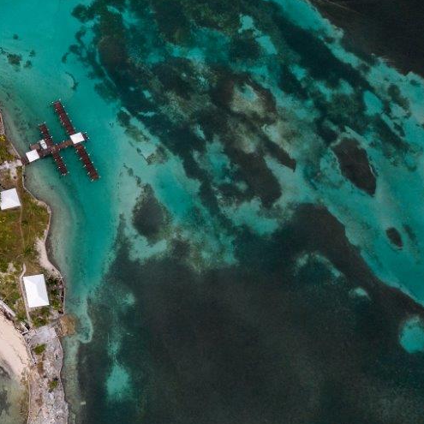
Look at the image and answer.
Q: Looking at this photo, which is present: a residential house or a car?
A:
residential house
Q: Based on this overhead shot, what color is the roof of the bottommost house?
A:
white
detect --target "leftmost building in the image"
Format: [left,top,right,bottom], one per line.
[0,188,20,209]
